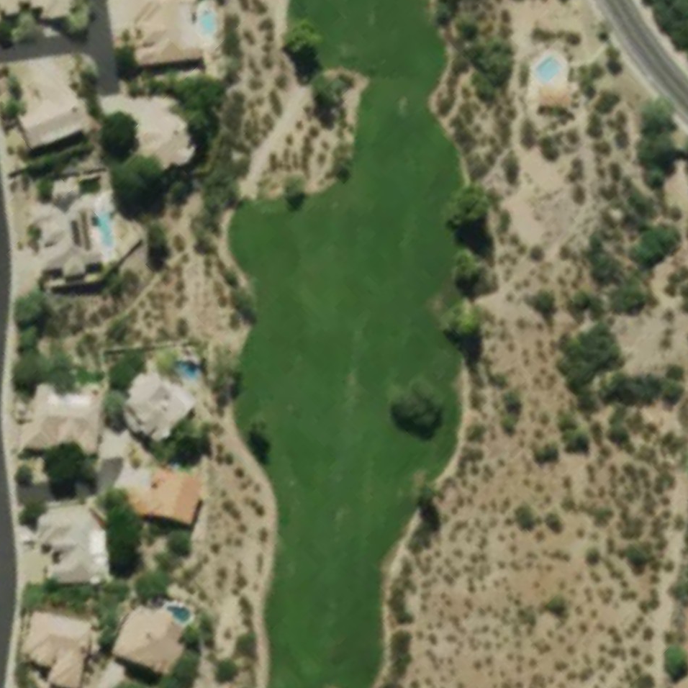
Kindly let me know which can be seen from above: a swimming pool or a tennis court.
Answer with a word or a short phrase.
swimming pool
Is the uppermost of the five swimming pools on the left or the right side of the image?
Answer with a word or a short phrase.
left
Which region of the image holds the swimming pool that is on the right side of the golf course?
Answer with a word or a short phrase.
top right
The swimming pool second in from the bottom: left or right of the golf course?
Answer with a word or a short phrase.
to the left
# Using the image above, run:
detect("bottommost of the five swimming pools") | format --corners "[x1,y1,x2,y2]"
[172,601,193,626]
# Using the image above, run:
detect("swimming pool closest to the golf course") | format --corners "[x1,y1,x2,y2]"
[173,354,203,387]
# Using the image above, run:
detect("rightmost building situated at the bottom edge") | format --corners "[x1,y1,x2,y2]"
[114,599,184,676]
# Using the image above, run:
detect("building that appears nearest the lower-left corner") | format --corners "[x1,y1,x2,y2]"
[25,612,92,688]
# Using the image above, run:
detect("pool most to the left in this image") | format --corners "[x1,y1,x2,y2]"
[92,188,121,264]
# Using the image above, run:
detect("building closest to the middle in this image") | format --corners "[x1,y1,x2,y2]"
[120,371,197,441]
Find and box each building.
[111,0,202,67]
[17,57,91,146]
[120,371,197,441]
[541,89,571,108]
[25,612,92,688]
[35,198,102,277]
[39,506,108,583]
[18,386,107,460]
[114,599,184,676]
[126,93,196,166]
[127,467,199,525]
[0,0,78,20]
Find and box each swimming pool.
[198,0,219,43]
[531,48,568,92]
[173,354,203,387]
[172,601,193,626]
[92,188,121,264]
